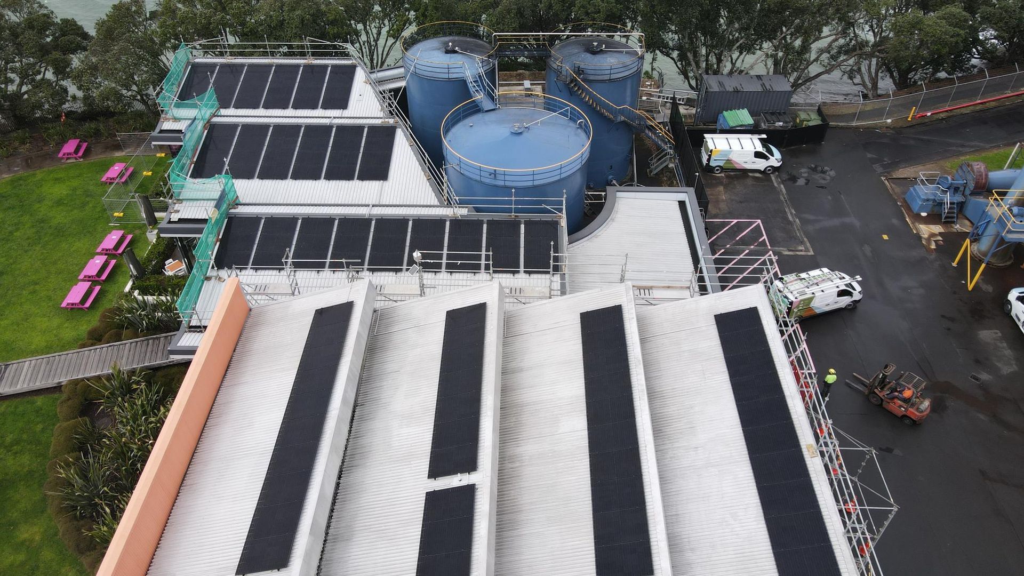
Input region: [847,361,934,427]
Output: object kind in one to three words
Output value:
work vehicle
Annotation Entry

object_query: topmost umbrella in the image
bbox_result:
[138,200,161,242]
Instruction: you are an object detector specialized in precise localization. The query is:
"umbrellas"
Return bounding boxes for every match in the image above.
[138,200,161,242]
[117,241,140,271]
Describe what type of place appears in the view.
industrial area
